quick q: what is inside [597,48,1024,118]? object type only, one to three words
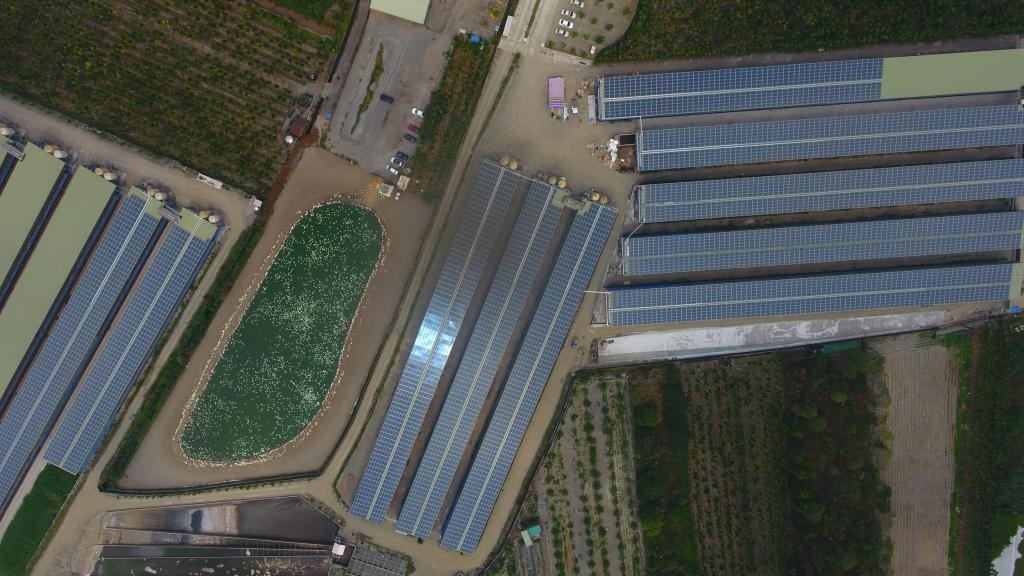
barn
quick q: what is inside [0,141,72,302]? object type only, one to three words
barn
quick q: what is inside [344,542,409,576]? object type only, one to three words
house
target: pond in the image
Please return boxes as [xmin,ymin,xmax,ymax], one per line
[179,202,386,465]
